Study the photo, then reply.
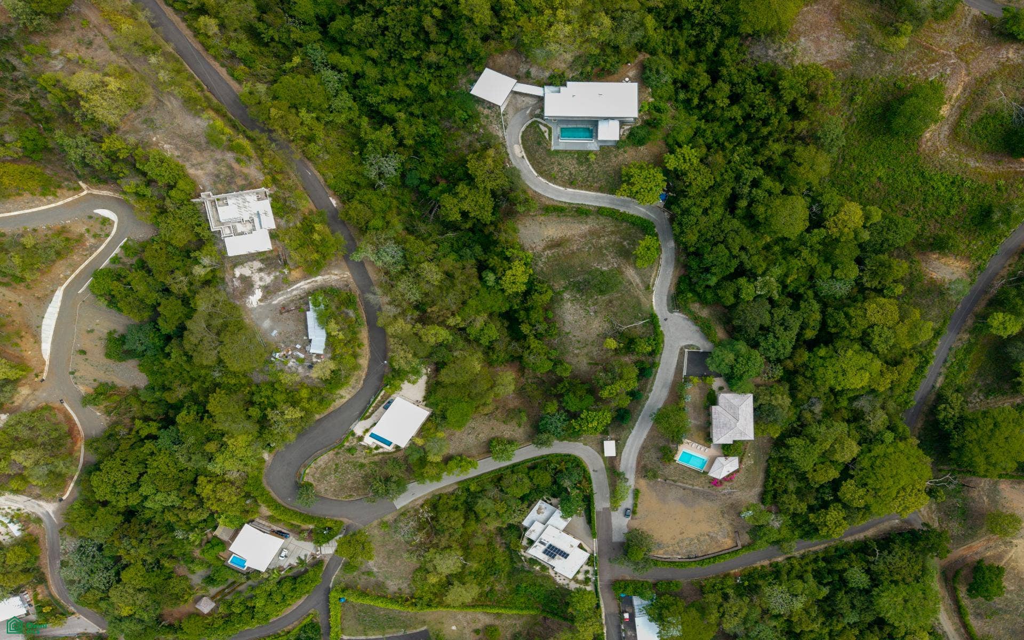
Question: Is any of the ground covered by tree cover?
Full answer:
Yes, there's tree cover in this view.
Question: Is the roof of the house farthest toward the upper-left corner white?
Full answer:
Yes, the roof of the house farthest toward the upper-left corner is indeed white.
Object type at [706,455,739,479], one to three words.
building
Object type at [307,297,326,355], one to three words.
shed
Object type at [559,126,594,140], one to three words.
swimming pool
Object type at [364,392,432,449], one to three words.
house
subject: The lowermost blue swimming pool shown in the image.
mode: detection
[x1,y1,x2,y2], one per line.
[229,554,248,570]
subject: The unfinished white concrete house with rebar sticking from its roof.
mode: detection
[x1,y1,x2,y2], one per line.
[193,187,278,256]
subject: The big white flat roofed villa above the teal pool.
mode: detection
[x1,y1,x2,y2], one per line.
[544,82,638,141]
